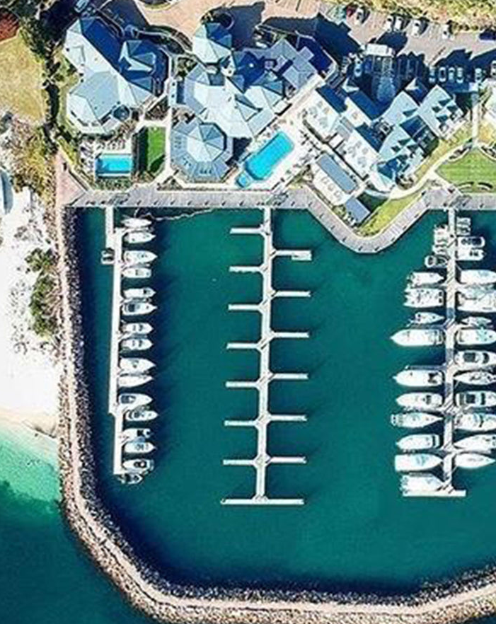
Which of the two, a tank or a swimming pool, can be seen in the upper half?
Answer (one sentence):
The one visible in the upper half is a swimming pool.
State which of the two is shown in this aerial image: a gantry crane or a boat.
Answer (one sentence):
The image shows a boat.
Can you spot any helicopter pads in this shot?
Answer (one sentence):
No, no helicopter pad is visible in the scene.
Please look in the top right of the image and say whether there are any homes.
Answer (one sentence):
Yes, you'll find a home in the top right of the image.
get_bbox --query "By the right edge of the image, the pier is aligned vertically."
[402,211,492,496]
